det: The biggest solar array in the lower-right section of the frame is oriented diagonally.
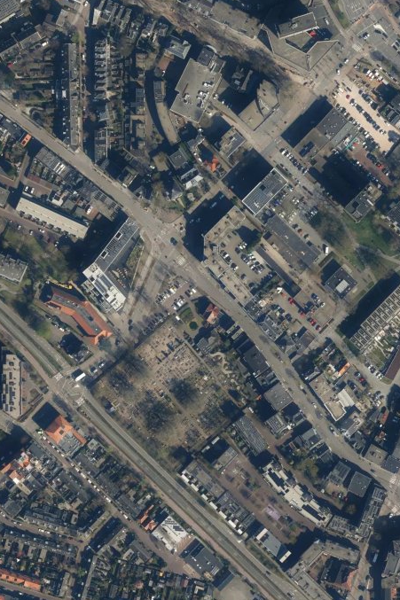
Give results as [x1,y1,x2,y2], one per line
[269,464,328,526]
